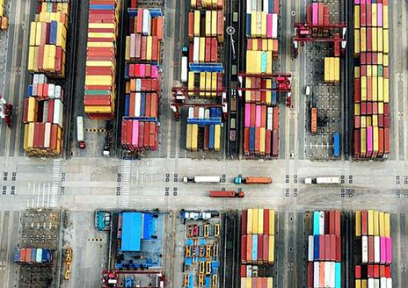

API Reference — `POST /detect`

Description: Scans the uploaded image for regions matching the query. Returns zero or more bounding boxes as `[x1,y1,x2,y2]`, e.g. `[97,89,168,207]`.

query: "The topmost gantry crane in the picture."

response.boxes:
[293,21,349,62]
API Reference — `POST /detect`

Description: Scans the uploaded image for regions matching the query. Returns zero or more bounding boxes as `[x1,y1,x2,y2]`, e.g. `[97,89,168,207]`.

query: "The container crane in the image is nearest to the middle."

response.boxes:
[169,88,229,125]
